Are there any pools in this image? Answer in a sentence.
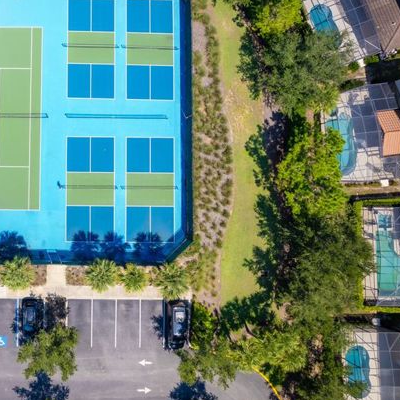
Yes, a pool is visible in the scene.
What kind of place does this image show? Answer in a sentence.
It's a sports ground.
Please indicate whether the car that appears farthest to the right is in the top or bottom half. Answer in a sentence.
It is in the bottom half that the car that appears farthest to the right appears.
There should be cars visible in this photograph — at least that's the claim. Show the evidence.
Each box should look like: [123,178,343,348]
[21,296,39,338]
[167,302,187,348]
